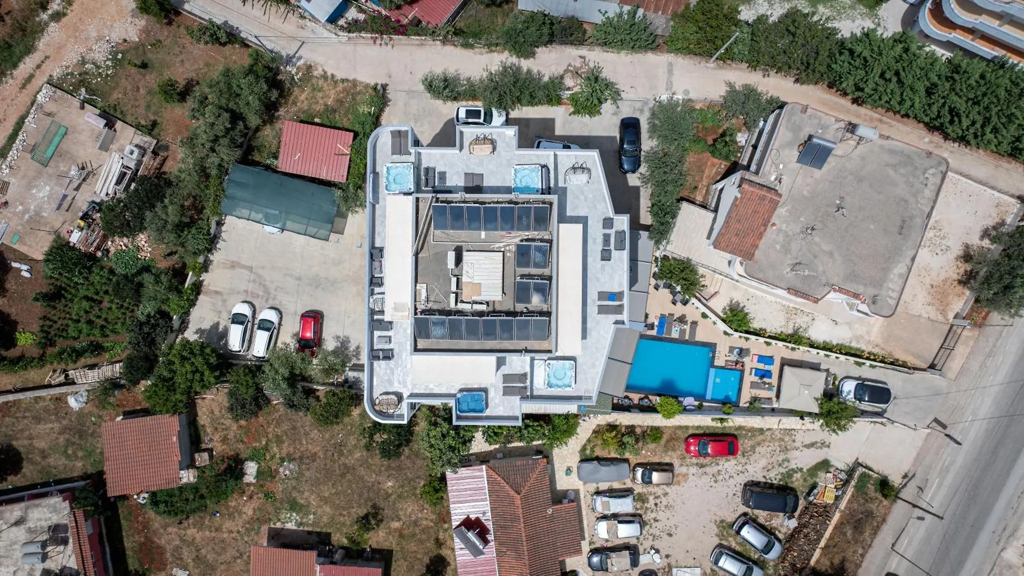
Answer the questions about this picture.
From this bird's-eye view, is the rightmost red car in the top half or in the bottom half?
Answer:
bottom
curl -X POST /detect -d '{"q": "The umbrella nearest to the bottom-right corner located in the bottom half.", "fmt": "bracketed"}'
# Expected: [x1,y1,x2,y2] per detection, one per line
[779,366,826,412]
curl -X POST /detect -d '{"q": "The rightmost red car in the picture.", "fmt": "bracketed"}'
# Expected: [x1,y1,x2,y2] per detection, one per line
[683,434,739,460]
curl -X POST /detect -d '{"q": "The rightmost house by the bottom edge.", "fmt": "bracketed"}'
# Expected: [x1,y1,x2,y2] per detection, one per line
[447,454,583,576]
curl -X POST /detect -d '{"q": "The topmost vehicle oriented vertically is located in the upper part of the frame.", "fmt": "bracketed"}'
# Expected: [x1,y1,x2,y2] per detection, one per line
[617,117,644,174]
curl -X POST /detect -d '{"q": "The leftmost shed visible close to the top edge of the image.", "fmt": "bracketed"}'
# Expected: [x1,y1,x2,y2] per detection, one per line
[299,0,347,29]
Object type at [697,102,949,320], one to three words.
house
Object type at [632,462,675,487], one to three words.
car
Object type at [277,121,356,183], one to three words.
shed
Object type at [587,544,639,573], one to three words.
car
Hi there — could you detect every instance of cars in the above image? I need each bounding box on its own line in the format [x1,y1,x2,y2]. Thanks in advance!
[632,462,675,487]
[730,513,782,557]
[587,544,639,573]
[595,515,644,542]
[836,379,892,408]
[617,117,644,174]
[261,225,284,237]
[741,482,798,514]
[453,105,508,127]
[683,434,739,460]
[296,310,322,356]
[250,307,284,360]
[592,489,636,515]
[530,135,581,149]
[884,0,926,15]
[228,301,257,354]
[710,541,764,576]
